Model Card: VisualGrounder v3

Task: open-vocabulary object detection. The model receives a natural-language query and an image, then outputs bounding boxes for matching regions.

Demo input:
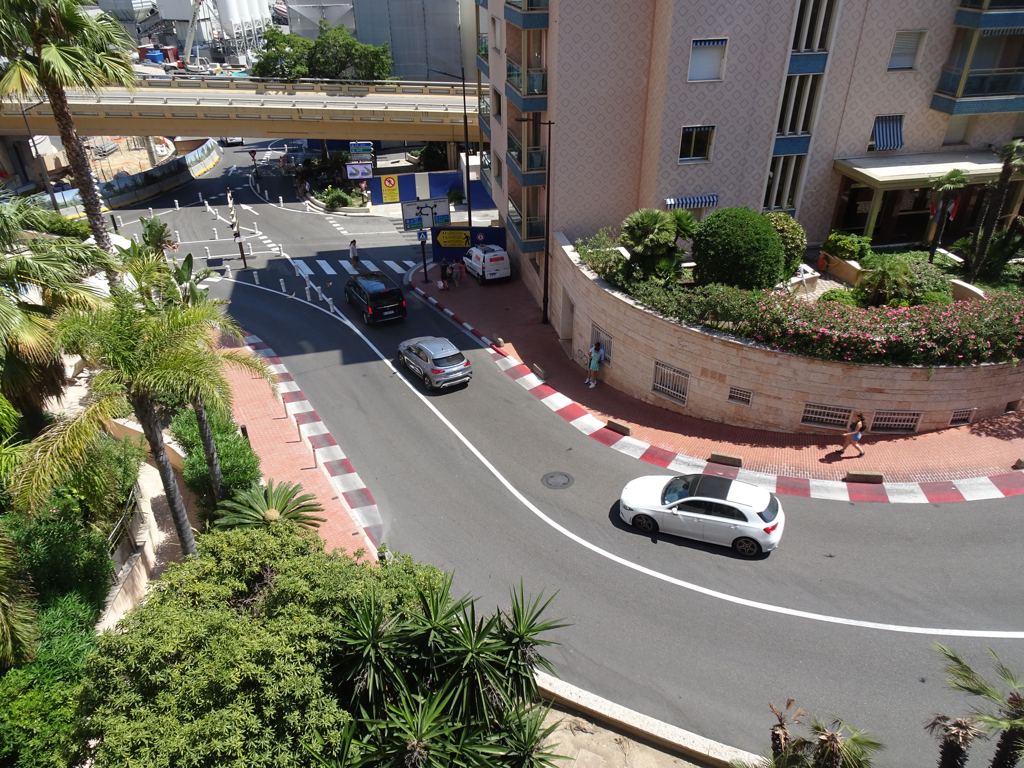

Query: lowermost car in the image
[619,471,791,557]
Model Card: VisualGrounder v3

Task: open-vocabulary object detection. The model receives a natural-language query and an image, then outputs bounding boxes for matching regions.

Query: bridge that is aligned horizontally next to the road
[0,68,488,178]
